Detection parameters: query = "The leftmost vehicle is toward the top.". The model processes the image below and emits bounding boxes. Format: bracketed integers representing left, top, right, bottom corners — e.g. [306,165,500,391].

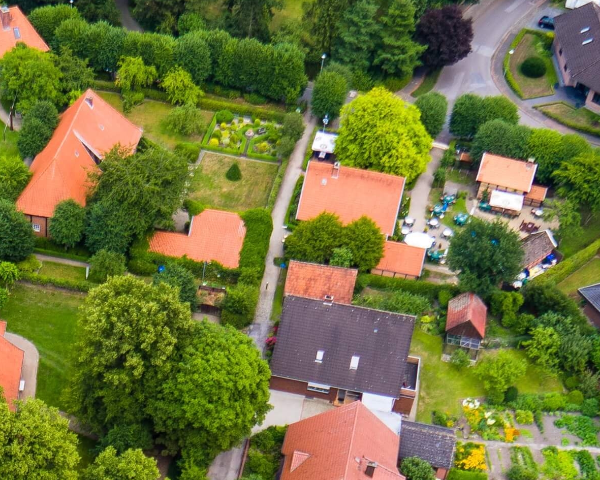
[537,13,556,27]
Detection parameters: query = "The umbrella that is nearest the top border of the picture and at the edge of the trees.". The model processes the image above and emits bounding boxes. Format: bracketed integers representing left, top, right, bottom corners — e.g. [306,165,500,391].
[314,135,335,158]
